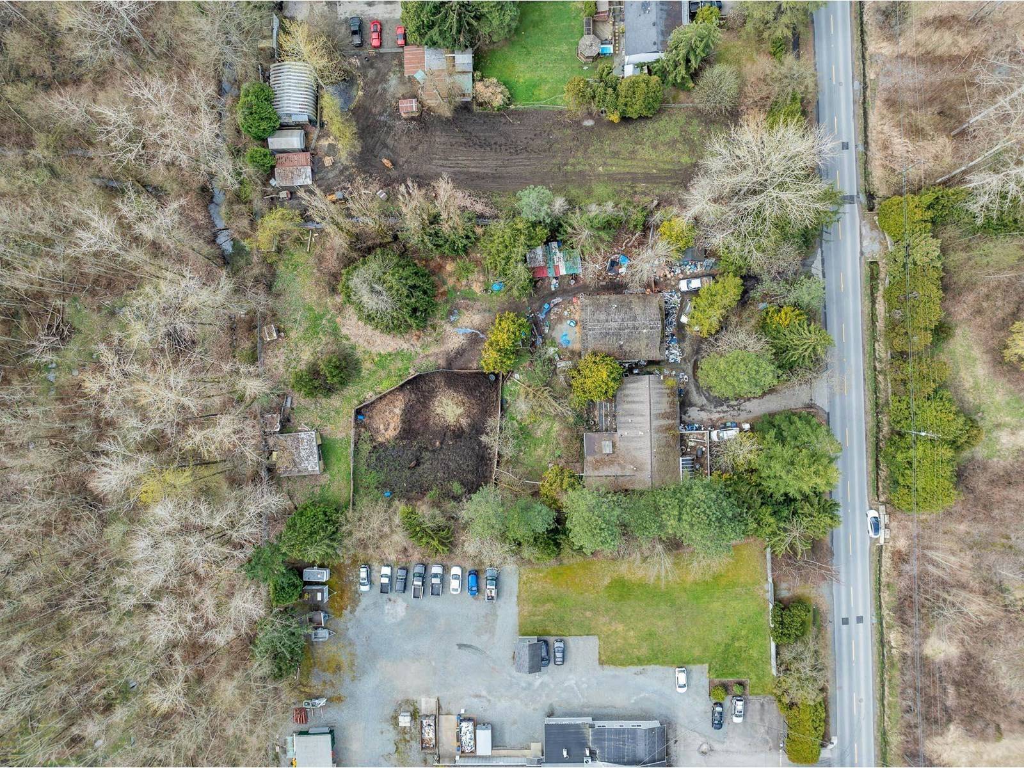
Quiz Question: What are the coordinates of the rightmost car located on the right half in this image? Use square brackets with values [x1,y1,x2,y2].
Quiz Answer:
[865,509,881,538]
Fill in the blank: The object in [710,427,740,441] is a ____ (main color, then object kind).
white vehicle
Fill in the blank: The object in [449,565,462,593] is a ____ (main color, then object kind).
white vehicle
